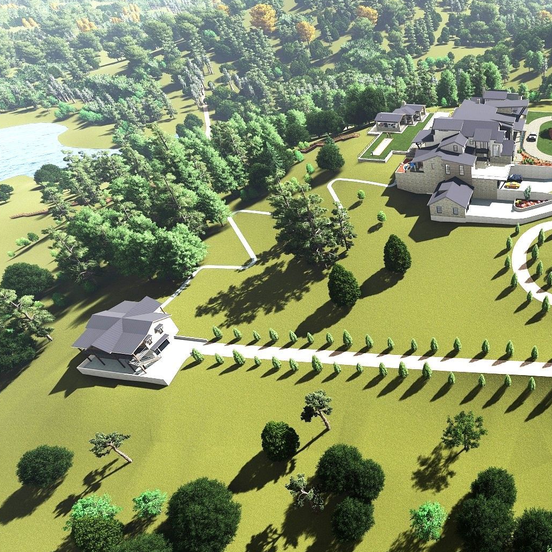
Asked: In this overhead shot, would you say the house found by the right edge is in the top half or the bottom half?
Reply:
top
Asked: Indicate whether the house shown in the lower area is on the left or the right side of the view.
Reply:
left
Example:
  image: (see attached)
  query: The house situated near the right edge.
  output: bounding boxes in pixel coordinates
[394,88,529,222]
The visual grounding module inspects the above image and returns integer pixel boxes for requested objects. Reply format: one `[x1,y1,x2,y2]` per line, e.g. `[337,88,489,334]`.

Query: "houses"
[394,88,529,222]
[70,295,179,374]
